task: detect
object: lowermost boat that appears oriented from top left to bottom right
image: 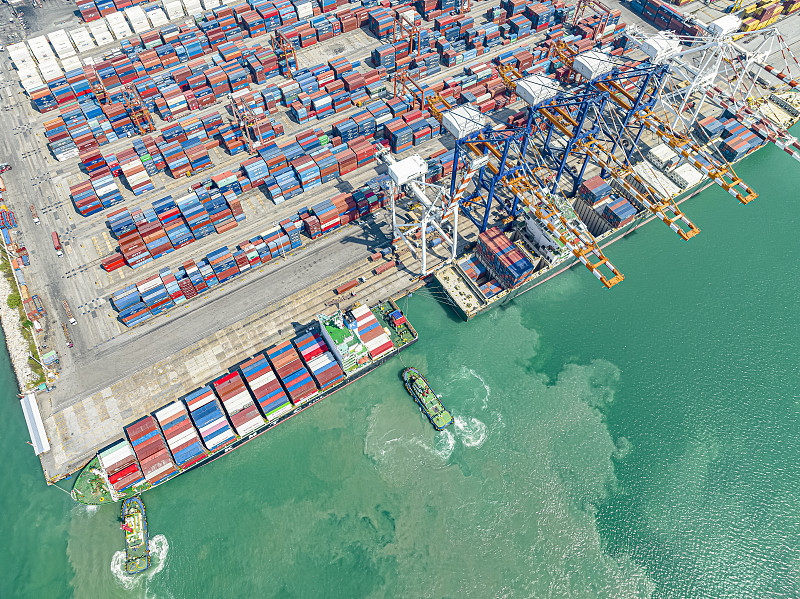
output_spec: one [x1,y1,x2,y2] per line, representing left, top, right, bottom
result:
[402,369,454,430]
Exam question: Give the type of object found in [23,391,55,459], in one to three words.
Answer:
shed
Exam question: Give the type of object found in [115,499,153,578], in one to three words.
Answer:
boat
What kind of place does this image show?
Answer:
port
